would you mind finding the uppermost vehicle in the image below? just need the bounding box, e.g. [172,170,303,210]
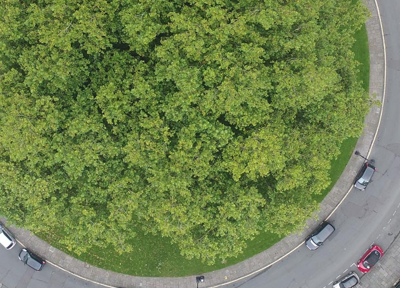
[352,161,378,191]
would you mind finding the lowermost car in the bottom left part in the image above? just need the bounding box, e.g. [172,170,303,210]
[18,247,46,272]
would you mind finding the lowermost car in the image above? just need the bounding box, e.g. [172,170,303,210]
[332,271,360,288]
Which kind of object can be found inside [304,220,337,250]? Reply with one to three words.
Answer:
car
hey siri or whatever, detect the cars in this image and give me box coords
[0,221,17,250]
[352,161,378,191]
[332,271,360,288]
[356,244,384,273]
[18,247,46,272]
[304,220,337,250]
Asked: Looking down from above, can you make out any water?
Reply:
No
